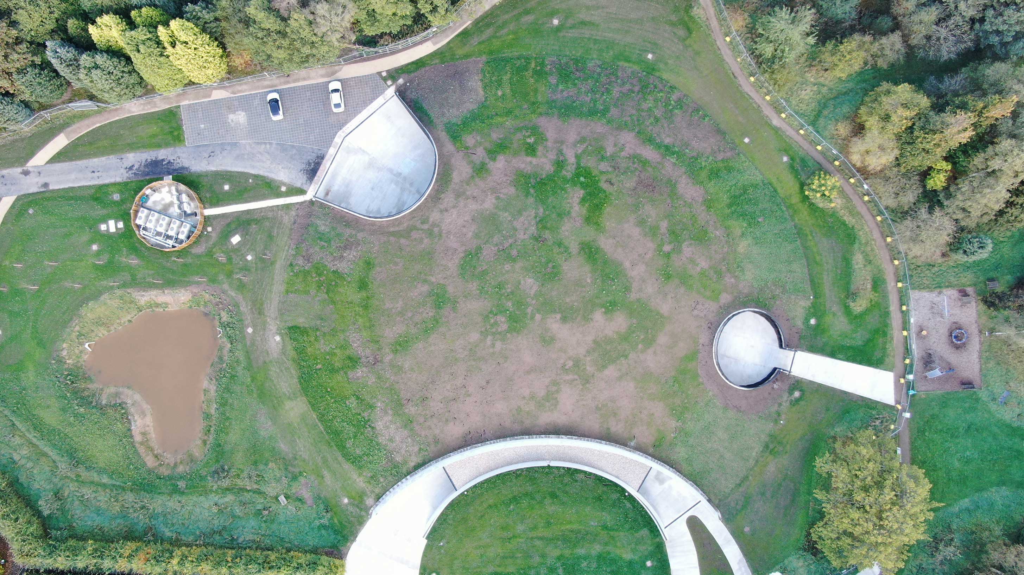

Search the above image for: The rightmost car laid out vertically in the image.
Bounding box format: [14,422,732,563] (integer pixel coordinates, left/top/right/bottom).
[329,79,344,112]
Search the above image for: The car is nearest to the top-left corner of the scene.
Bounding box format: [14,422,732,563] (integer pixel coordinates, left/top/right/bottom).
[265,91,283,120]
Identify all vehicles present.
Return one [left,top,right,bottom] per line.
[265,91,283,120]
[329,79,344,112]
